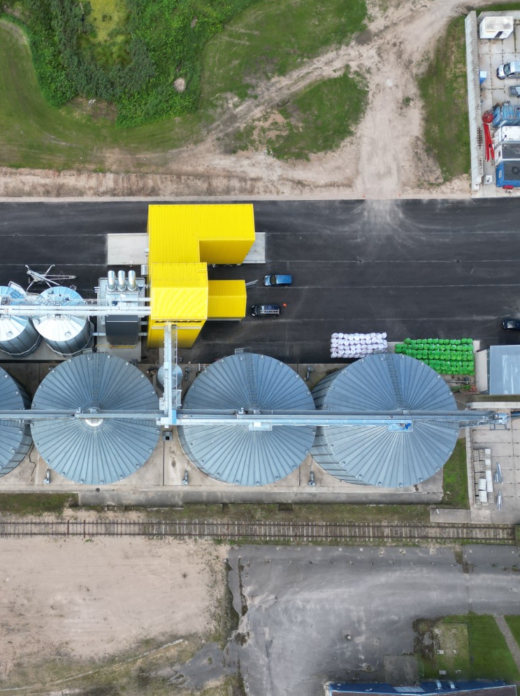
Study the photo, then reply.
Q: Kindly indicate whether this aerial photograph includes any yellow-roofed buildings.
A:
Yes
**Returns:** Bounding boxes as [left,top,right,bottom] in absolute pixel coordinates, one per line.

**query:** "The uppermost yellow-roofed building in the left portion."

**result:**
[144,203,255,288]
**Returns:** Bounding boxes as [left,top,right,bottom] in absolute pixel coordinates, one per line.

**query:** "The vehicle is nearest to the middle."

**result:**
[250,302,281,317]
